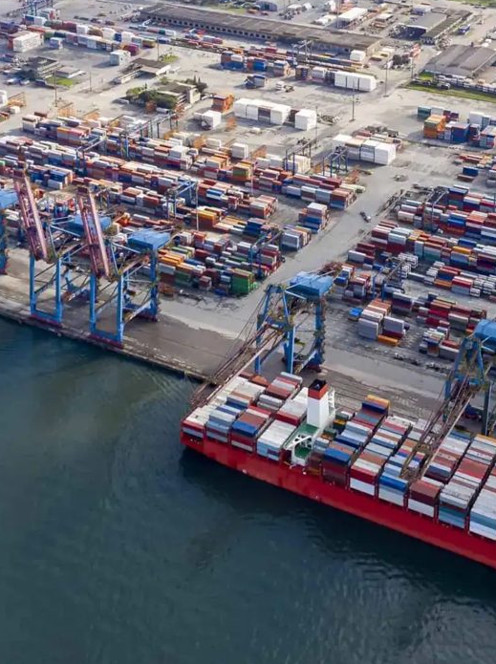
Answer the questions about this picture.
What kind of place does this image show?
port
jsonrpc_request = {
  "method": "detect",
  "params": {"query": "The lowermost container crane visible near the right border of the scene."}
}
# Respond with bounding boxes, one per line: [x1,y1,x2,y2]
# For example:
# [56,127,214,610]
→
[387,315,496,484]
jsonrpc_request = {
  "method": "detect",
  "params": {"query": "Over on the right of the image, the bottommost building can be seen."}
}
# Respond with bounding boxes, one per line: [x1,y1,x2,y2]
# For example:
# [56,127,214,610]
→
[423,47,496,84]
